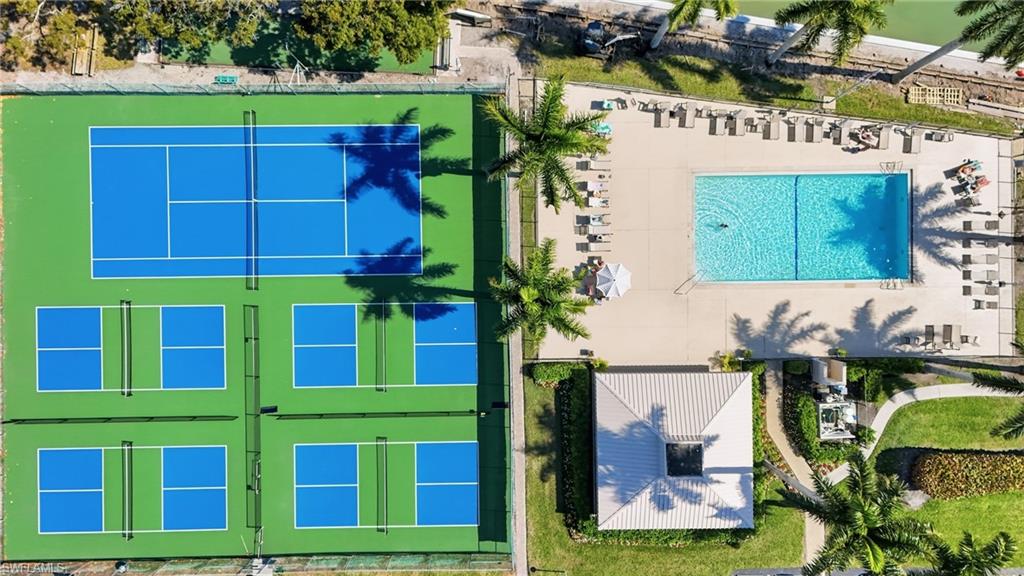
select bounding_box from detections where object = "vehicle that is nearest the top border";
[578,22,642,56]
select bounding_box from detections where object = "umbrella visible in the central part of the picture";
[598,263,630,296]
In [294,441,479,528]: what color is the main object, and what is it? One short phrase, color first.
blue sports court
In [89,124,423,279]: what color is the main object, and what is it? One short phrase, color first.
blue tennis court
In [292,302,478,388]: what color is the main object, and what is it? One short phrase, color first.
blue sports court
